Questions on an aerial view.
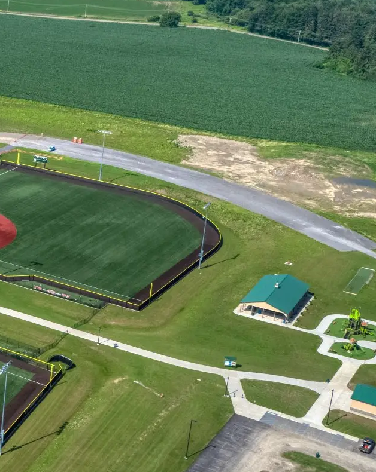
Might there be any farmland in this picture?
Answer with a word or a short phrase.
Yes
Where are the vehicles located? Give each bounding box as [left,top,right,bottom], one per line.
[44,141,59,149]
[359,429,376,450]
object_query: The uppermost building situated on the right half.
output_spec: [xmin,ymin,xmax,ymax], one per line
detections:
[238,263,311,320]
